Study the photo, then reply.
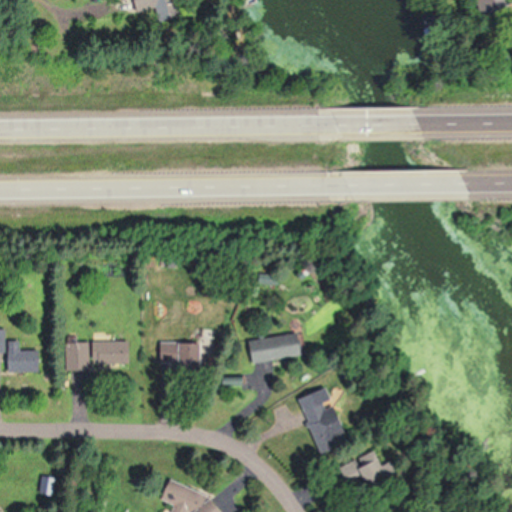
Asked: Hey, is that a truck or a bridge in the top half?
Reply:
bridge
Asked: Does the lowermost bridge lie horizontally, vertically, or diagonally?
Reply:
horizontally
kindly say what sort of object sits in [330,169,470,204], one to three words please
bridge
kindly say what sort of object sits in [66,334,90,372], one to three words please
house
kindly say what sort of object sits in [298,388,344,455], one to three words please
house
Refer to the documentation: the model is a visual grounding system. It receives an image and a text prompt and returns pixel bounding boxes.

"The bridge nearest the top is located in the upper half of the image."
[320,105,423,143]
